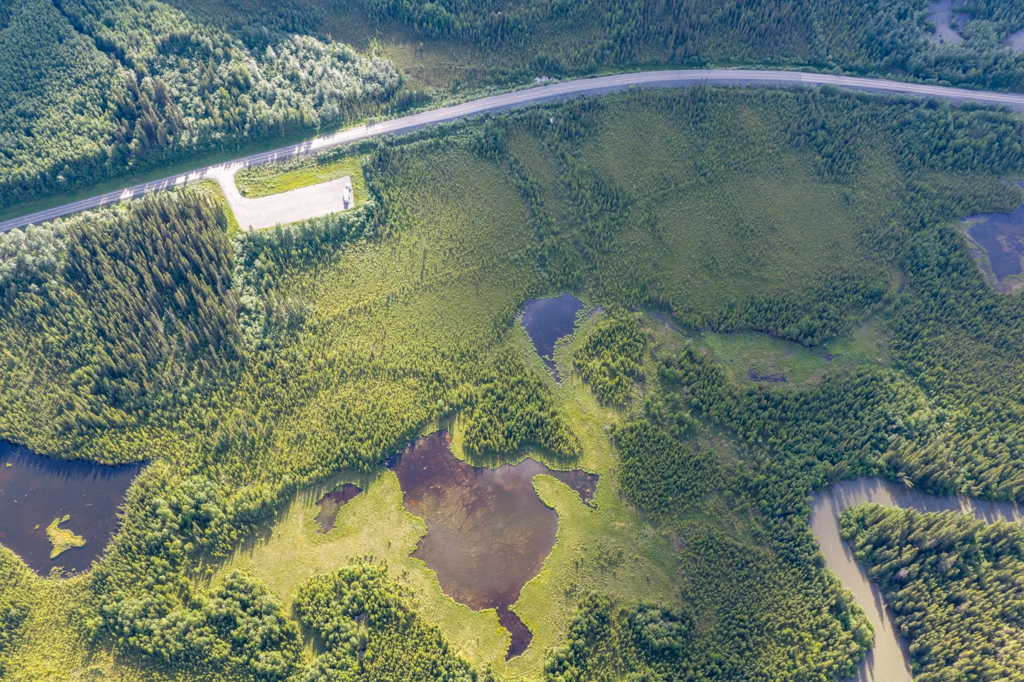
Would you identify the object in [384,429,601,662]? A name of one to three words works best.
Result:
pond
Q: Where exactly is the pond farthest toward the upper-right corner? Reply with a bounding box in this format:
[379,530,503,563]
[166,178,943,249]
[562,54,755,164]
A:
[521,294,583,382]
